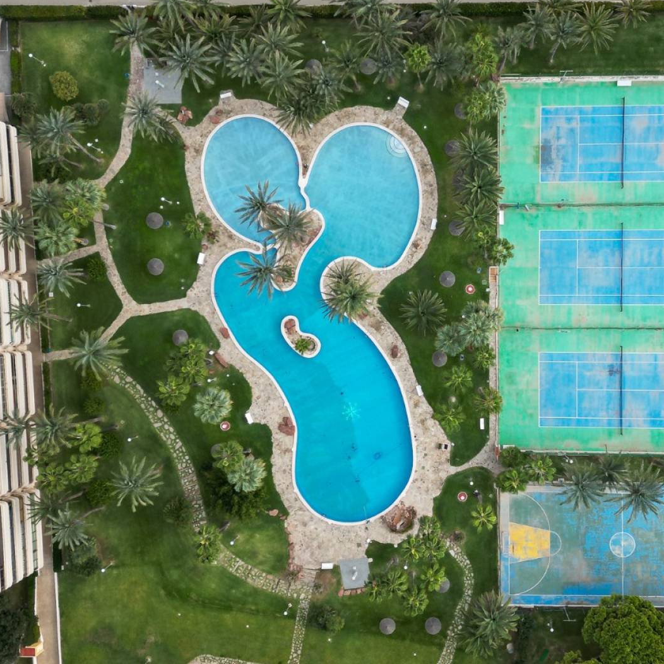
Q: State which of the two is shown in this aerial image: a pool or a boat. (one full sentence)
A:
Looking from above, you can make out a pool.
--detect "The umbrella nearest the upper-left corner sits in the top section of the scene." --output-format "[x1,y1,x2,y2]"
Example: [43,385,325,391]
[147,212,165,230]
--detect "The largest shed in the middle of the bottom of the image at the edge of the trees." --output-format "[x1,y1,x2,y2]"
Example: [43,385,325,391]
[340,555,370,589]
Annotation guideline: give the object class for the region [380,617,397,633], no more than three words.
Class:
umbrella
